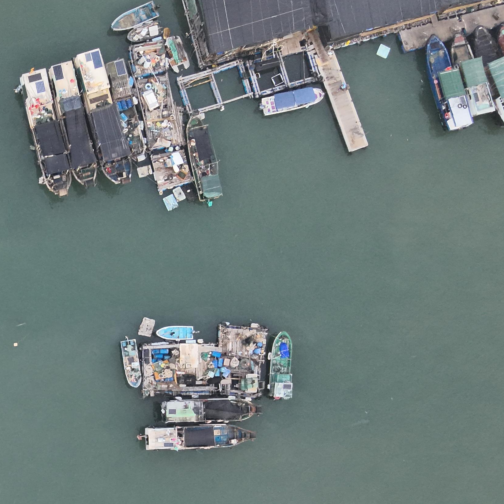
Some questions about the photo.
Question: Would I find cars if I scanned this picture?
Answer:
No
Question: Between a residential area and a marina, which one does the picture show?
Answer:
marina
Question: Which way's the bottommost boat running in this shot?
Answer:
from side to side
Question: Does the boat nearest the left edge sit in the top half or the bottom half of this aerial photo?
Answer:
top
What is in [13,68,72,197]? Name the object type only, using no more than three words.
boat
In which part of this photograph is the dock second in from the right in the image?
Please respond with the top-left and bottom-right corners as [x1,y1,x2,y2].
[395,14,465,55]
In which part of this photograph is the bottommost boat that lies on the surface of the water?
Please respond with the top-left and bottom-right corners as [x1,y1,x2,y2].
[136,424,258,450]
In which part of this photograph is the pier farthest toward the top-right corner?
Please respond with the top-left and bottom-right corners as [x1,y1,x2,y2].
[462,5,504,35]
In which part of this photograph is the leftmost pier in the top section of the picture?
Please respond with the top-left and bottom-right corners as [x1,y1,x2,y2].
[307,26,368,154]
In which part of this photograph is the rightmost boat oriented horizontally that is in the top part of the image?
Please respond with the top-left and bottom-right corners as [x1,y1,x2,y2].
[258,87,325,117]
